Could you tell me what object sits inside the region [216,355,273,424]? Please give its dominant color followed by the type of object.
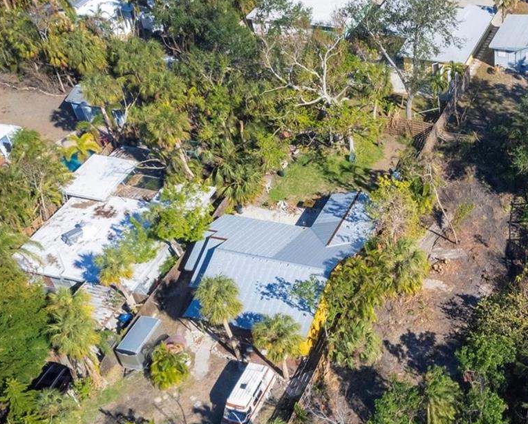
white camper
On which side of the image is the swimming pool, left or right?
left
